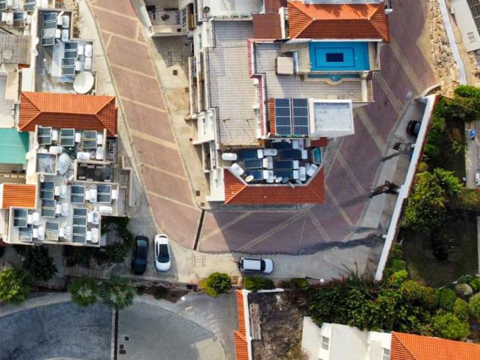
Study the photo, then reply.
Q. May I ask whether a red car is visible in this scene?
No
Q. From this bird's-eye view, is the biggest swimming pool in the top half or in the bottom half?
top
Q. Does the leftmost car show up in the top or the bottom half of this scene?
bottom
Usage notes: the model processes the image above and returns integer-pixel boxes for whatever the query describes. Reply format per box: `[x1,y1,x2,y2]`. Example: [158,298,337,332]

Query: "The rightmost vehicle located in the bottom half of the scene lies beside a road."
[239,257,274,275]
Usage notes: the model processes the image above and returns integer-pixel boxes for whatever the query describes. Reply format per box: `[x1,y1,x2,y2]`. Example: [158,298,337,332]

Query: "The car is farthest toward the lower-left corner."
[129,235,151,274]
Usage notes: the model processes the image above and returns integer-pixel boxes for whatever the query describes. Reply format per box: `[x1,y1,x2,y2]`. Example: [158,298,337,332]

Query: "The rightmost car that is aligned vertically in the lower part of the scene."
[154,233,172,272]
